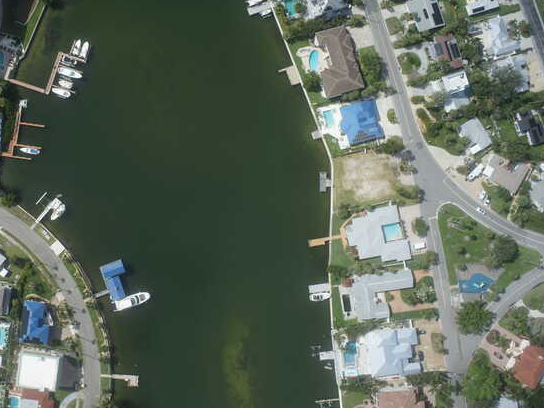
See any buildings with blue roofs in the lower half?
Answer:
Yes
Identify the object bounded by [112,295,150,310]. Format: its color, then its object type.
white boat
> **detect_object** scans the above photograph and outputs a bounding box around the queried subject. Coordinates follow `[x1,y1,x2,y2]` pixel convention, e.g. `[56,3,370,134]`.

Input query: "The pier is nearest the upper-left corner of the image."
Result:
[7,39,88,95]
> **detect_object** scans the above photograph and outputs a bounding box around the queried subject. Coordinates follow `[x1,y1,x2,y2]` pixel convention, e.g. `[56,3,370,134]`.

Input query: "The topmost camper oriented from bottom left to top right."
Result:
[467,165,483,181]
